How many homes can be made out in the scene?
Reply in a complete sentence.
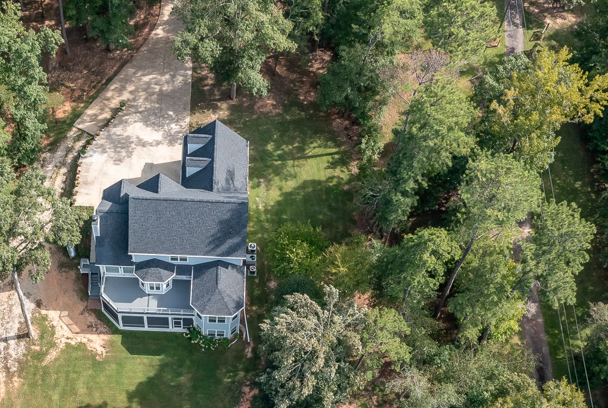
The picture shows just 1 home.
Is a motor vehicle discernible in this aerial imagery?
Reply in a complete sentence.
No, I can't see a single motor vehicle in this photo.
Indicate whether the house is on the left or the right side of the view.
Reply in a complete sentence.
You can find the house on the left side of the picture.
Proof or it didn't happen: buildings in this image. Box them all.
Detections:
[84,117,253,363]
